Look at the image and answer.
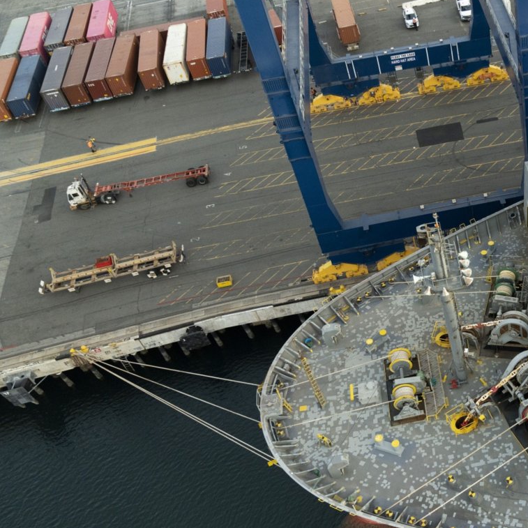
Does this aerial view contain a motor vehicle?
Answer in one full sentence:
Yes, a motor vehicle can be made out from above.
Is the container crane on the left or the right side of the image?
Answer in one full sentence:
You can find the container crane on the right side of the picture.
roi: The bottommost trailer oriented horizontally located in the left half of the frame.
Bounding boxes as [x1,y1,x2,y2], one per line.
[28,235,183,295]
